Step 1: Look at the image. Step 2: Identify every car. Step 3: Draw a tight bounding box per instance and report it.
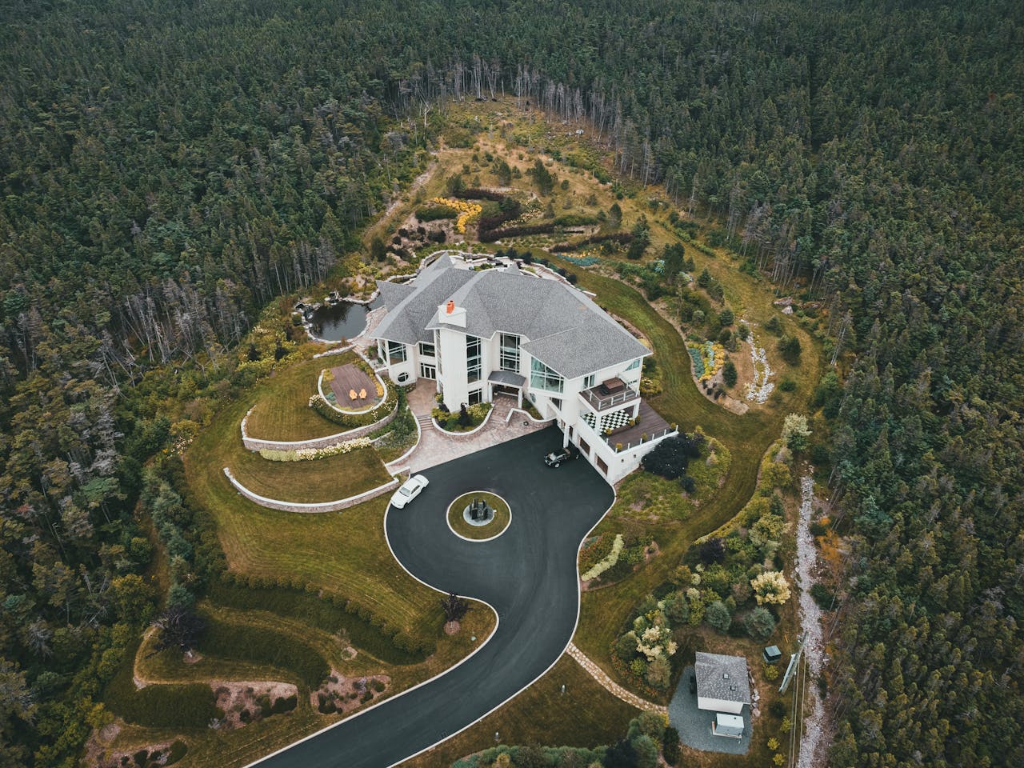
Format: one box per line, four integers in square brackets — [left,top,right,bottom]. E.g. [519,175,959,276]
[541,443,575,466]
[390,469,432,503]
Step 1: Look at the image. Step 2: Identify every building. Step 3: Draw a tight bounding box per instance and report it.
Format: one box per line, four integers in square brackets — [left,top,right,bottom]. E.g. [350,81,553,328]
[693,648,754,714]
[369,252,672,484]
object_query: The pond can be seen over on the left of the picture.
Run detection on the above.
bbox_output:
[306,293,380,342]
